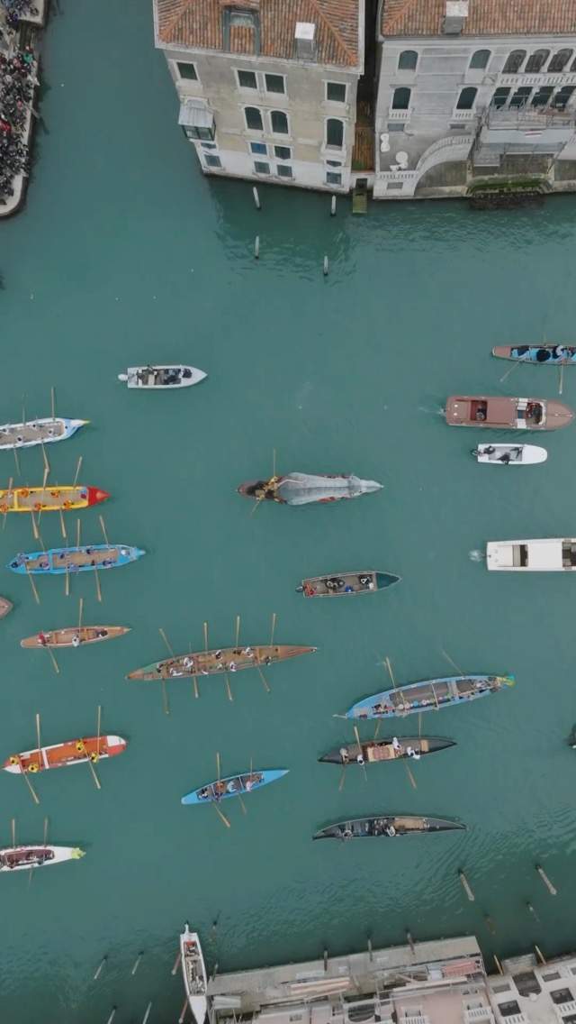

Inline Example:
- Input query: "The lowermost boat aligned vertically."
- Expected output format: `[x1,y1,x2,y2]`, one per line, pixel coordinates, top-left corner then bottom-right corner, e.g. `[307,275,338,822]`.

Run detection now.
[178,924,208,1024]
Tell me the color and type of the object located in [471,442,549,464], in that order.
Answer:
white boat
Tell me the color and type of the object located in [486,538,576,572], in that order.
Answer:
white boat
